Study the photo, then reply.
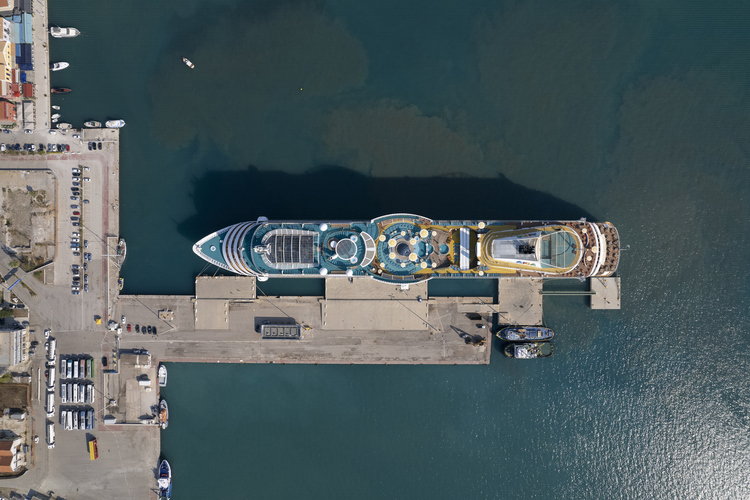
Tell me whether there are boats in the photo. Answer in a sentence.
Yes, there is a boat in the image.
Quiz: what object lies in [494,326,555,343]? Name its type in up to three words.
boat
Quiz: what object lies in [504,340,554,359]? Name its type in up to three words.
boat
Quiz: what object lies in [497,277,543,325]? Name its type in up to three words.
pier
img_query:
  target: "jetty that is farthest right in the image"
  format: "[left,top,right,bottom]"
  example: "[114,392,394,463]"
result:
[589,277,620,309]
